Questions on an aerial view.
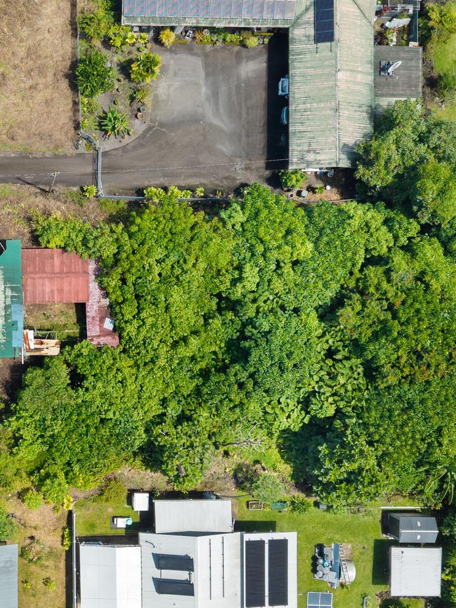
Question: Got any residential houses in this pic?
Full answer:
Yes, I can see a residential house in this picture.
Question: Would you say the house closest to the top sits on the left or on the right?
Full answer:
You can find the house closest to the top on the right side of the picture.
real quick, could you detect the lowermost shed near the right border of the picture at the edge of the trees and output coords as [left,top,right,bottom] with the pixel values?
[384,545,442,596]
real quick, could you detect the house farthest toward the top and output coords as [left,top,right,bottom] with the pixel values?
[380,0,421,47]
